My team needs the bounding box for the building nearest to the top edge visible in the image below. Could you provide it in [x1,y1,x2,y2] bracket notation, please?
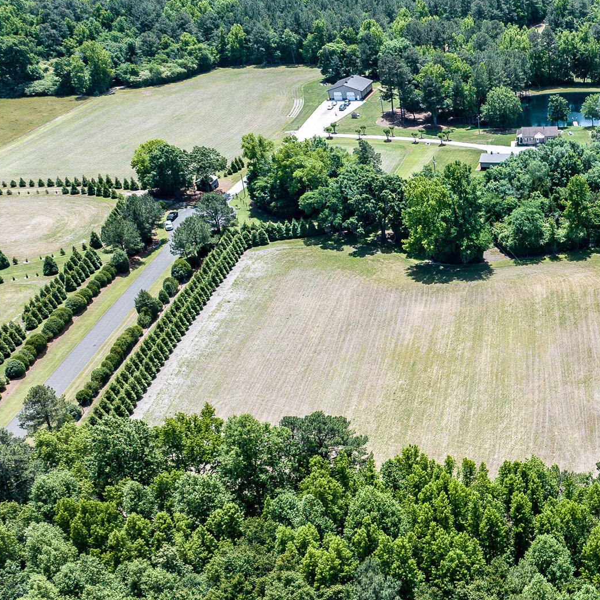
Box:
[327,74,372,101]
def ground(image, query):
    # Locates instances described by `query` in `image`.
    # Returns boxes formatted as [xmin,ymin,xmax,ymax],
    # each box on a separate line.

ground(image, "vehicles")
[338,102,346,109]
[326,103,334,109]
[331,98,338,105]
[164,220,173,231]
[344,98,350,105]
[164,211,179,221]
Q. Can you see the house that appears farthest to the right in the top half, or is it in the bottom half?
top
